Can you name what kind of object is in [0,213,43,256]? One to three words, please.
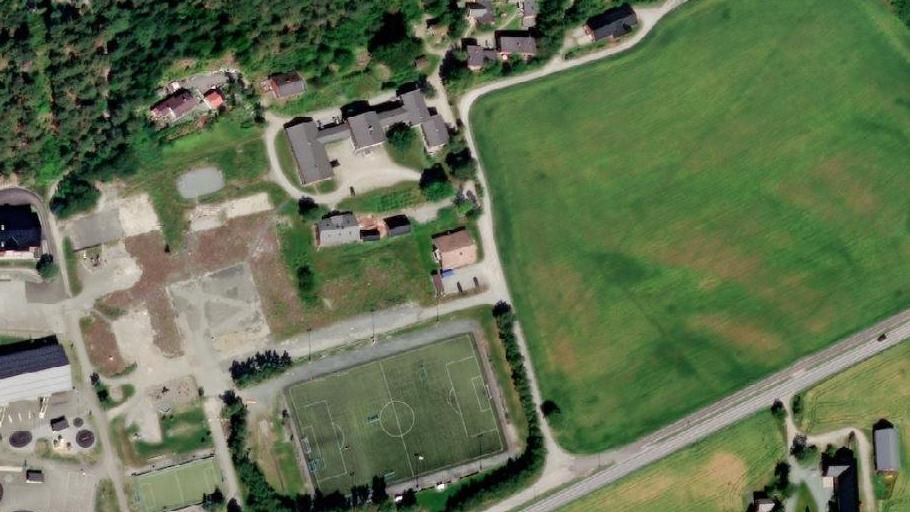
building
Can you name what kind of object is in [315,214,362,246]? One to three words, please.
house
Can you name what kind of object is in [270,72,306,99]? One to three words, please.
house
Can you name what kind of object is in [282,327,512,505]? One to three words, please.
soccer field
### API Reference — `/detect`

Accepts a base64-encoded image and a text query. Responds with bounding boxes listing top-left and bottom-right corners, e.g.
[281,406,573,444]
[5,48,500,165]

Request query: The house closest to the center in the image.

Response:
[431,228,475,269]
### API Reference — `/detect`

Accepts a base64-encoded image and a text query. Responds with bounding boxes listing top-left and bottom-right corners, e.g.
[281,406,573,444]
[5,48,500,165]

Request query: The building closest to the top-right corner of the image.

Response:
[584,5,637,43]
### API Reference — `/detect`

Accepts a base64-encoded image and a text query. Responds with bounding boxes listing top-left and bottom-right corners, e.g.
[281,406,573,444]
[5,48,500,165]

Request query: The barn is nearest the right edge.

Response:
[872,428,901,472]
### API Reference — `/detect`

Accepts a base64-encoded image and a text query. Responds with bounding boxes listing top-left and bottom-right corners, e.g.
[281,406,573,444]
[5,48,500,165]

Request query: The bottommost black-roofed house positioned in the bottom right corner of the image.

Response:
[824,470,861,512]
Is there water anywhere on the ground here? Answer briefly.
No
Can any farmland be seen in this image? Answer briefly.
Yes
